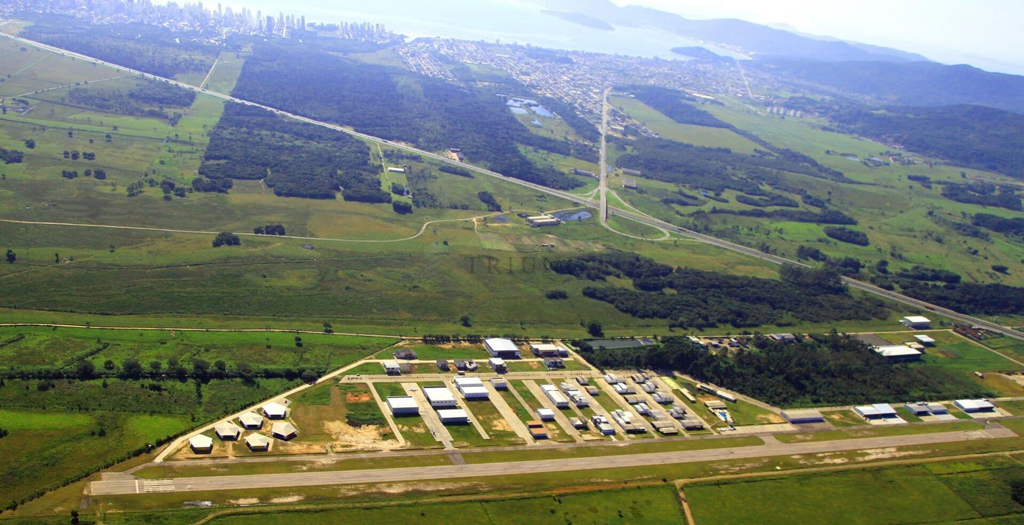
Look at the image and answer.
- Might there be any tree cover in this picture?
Yes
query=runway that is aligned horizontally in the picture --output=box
[92,427,1018,495]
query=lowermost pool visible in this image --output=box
[713,409,734,423]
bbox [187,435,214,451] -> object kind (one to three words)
building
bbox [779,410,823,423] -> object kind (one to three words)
hangar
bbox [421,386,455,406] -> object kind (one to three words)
hangar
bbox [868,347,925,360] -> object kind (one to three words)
building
